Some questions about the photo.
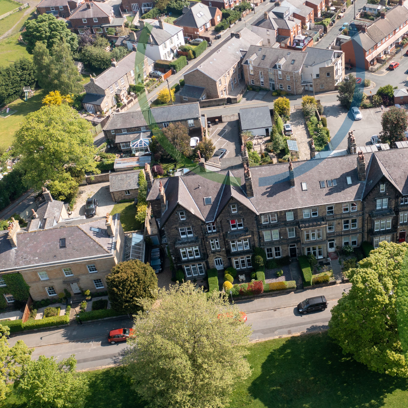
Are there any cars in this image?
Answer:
Yes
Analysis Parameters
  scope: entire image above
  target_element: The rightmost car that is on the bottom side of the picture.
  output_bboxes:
[297,296,328,314]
